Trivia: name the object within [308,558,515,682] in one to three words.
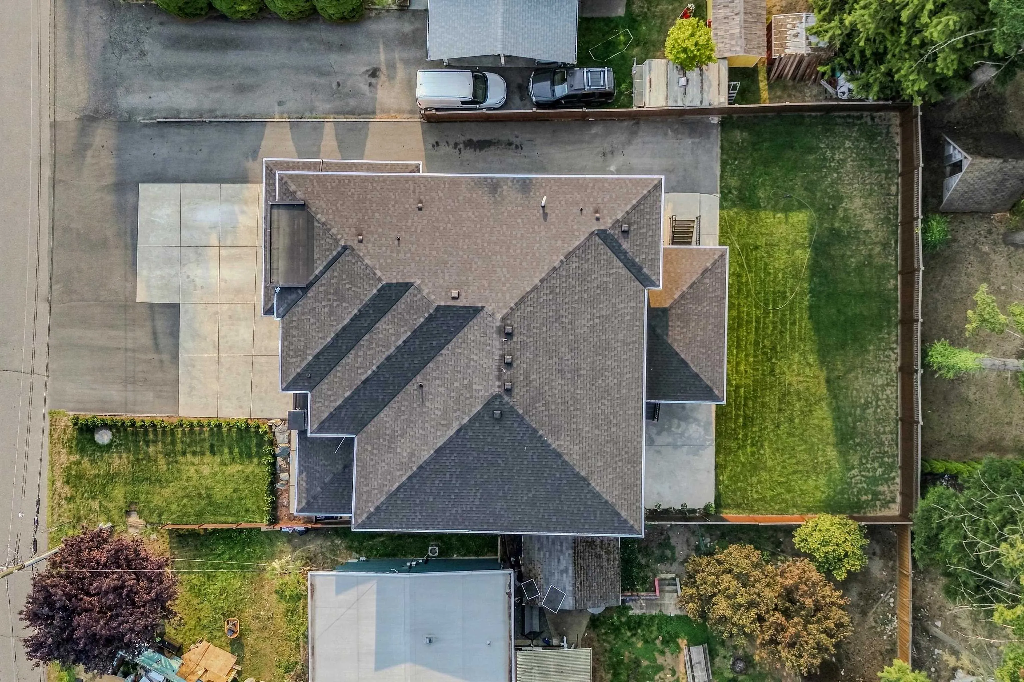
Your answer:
house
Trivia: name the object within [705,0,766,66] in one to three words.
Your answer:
shed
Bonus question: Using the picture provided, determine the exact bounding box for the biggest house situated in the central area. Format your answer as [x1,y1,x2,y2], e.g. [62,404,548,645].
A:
[263,160,727,537]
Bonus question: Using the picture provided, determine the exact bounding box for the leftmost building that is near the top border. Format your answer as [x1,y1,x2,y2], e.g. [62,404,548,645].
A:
[427,0,577,73]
